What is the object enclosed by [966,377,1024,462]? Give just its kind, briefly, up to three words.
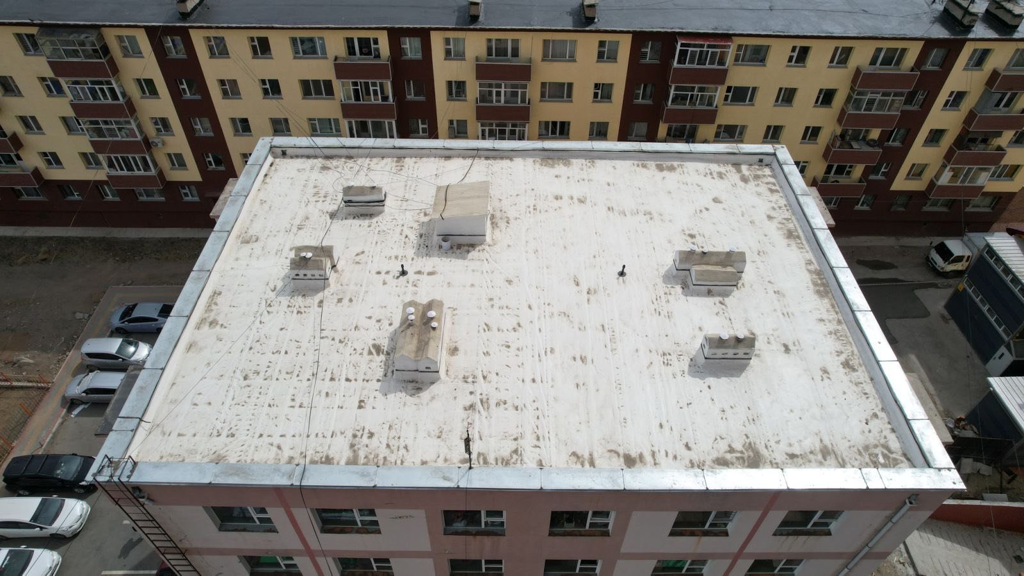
shed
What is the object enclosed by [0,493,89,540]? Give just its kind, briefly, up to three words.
car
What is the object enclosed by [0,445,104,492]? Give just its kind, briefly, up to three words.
car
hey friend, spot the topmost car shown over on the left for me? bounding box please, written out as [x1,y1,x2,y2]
[107,299,181,333]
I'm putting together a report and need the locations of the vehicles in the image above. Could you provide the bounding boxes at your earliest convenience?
[0,493,89,540]
[63,367,129,405]
[926,219,1019,275]
[107,299,181,333]
[0,445,104,492]
[76,335,161,370]
[0,546,62,576]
